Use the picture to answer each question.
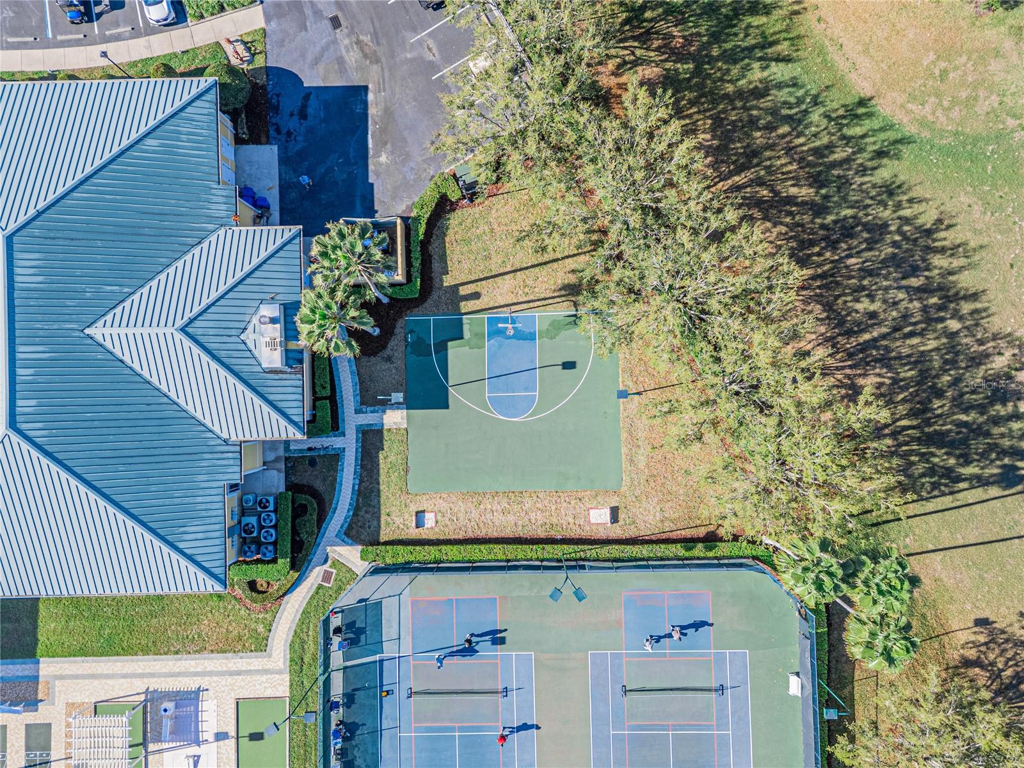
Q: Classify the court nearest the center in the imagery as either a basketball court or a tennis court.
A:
basketball court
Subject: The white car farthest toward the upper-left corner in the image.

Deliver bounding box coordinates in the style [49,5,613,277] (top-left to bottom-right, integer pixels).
[139,0,176,25]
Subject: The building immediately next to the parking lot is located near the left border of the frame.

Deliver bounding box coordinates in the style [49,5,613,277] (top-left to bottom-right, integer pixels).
[0,76,315,600]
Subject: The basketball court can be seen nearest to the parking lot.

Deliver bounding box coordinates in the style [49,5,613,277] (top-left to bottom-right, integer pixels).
[405,310,622,492]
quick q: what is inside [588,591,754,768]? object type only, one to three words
tennis court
